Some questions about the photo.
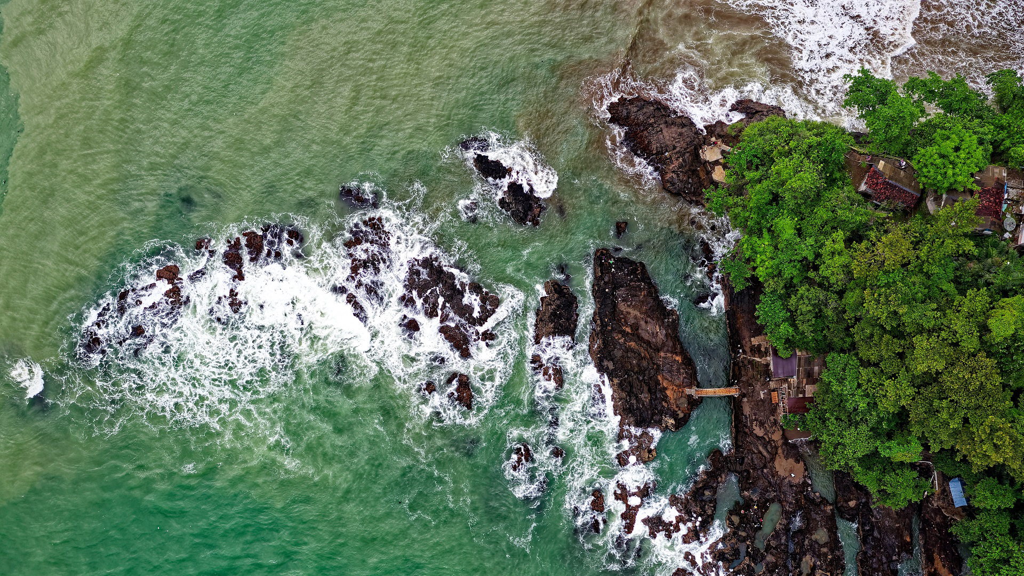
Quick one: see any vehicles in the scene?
No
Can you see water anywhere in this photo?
Yes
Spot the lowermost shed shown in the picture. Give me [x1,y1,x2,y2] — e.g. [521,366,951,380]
[942,477,966,507]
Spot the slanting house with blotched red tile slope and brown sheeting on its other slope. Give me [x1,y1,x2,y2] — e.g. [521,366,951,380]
[857,160,921,212]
